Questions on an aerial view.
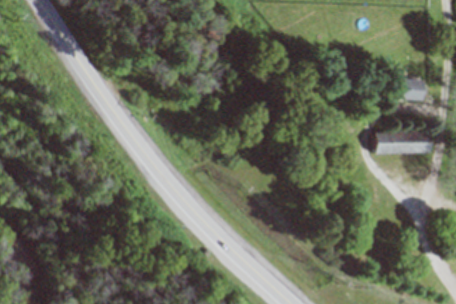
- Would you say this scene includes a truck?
No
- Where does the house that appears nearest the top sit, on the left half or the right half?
right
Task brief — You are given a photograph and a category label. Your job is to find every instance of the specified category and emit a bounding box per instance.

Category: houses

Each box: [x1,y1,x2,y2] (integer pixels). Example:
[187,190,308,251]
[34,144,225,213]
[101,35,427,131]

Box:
[404,76,428,101]
[376,130,434,154]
